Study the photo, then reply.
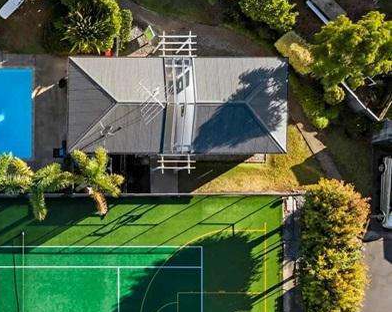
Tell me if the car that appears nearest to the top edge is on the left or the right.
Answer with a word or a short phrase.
right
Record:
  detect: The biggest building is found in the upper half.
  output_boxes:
[64,55,288,163]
